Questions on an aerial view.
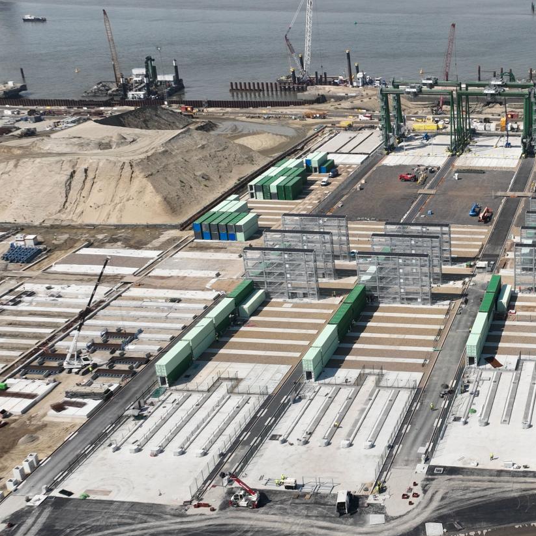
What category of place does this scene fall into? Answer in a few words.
port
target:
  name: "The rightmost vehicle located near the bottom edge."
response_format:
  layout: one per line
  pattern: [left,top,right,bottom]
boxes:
[330,484,355,518]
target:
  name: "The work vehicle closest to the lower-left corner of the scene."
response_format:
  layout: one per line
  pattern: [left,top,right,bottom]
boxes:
[212,466,259,506]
